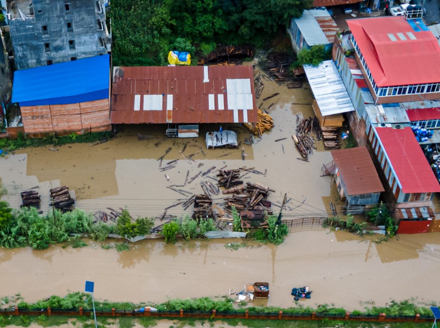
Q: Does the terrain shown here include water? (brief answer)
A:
Yes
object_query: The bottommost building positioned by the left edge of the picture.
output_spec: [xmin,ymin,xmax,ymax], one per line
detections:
[13,54,111,131]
